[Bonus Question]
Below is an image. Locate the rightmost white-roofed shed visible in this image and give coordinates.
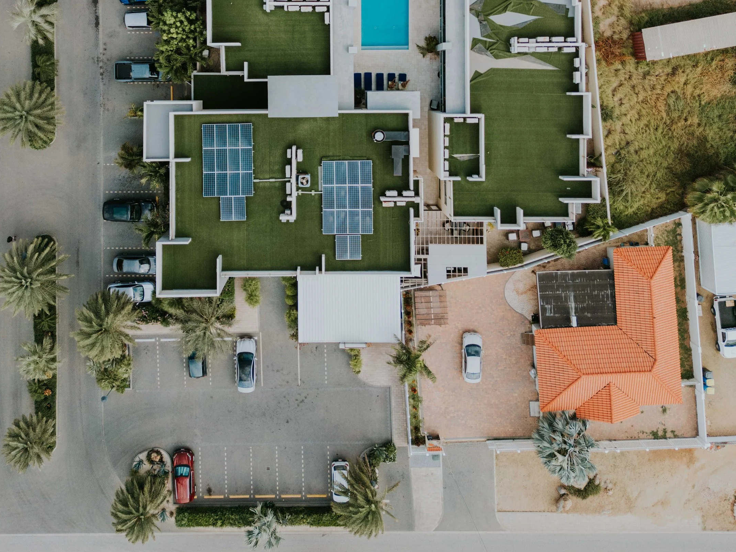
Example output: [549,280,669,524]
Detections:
[696,215,736,295]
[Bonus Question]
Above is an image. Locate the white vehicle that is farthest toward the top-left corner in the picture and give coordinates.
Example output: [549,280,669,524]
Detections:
[126,10,149,30]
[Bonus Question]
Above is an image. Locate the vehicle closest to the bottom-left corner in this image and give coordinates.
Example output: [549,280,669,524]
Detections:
[170,447,196,503]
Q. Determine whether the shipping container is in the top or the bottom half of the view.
top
